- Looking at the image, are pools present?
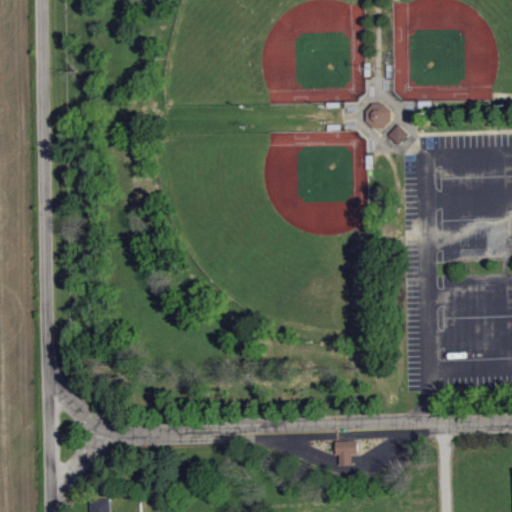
No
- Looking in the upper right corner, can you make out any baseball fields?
Yes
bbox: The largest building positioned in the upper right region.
[366,102,392,128]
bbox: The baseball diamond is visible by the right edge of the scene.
[394,0,512,101]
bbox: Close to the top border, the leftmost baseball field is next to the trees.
[166,0,366,105]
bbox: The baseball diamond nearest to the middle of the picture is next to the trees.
[164,132,368,333]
